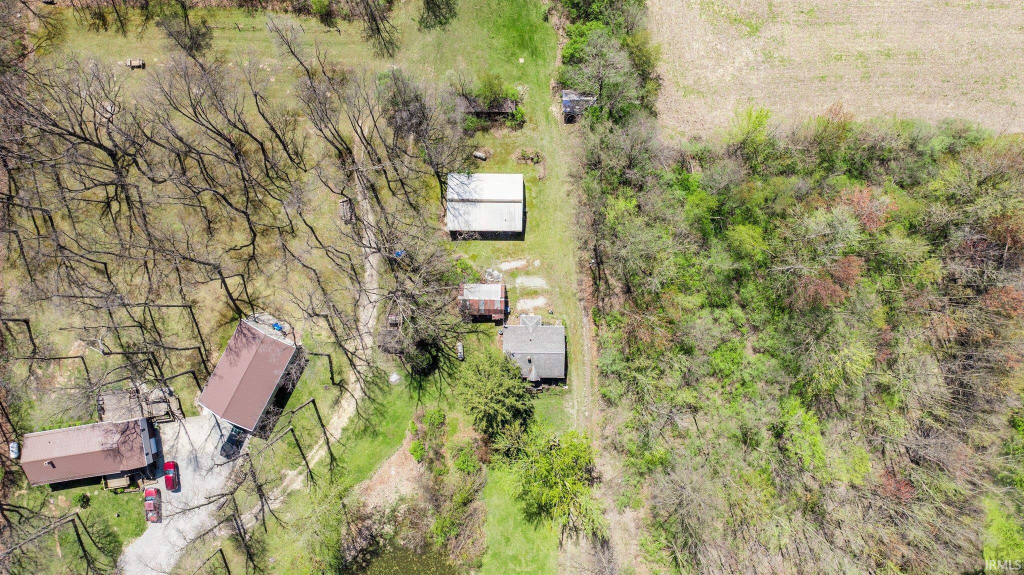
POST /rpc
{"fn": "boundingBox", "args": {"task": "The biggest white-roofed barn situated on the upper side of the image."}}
[447,173,523,232]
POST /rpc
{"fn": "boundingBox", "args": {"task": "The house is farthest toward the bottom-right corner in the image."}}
[503,315,566,382]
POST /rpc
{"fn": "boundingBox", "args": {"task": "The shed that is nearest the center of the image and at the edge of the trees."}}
[459,284,504,320]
